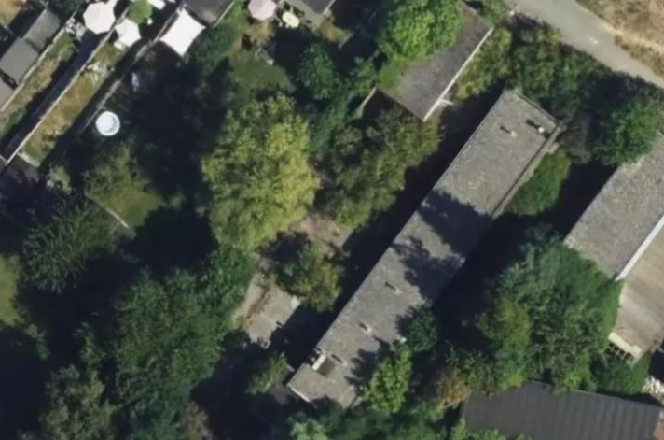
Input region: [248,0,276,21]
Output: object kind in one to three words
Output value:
umbrella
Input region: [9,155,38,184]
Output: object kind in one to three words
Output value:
shed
